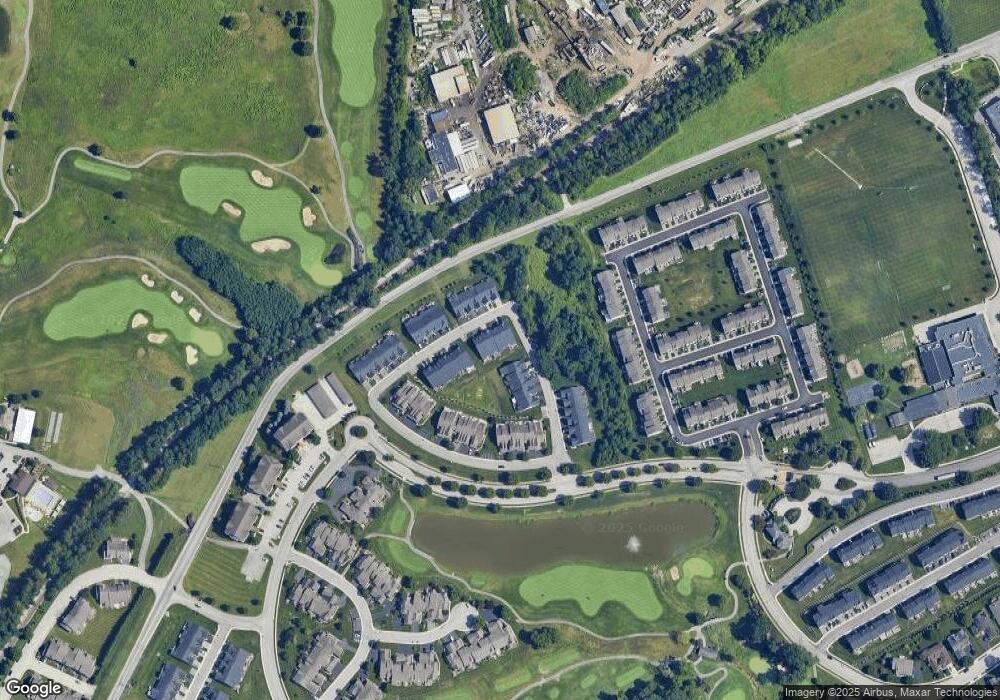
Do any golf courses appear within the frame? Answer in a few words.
Yes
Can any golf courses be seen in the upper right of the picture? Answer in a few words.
No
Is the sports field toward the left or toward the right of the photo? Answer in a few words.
right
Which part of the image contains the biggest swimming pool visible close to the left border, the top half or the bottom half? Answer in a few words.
bottom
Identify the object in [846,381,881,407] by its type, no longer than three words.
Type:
basketball court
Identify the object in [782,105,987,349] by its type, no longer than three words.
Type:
sports field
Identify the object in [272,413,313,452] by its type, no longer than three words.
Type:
building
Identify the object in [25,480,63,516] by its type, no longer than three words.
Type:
swimming pool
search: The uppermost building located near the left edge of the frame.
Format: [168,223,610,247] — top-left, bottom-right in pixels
[12,409,36,444]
